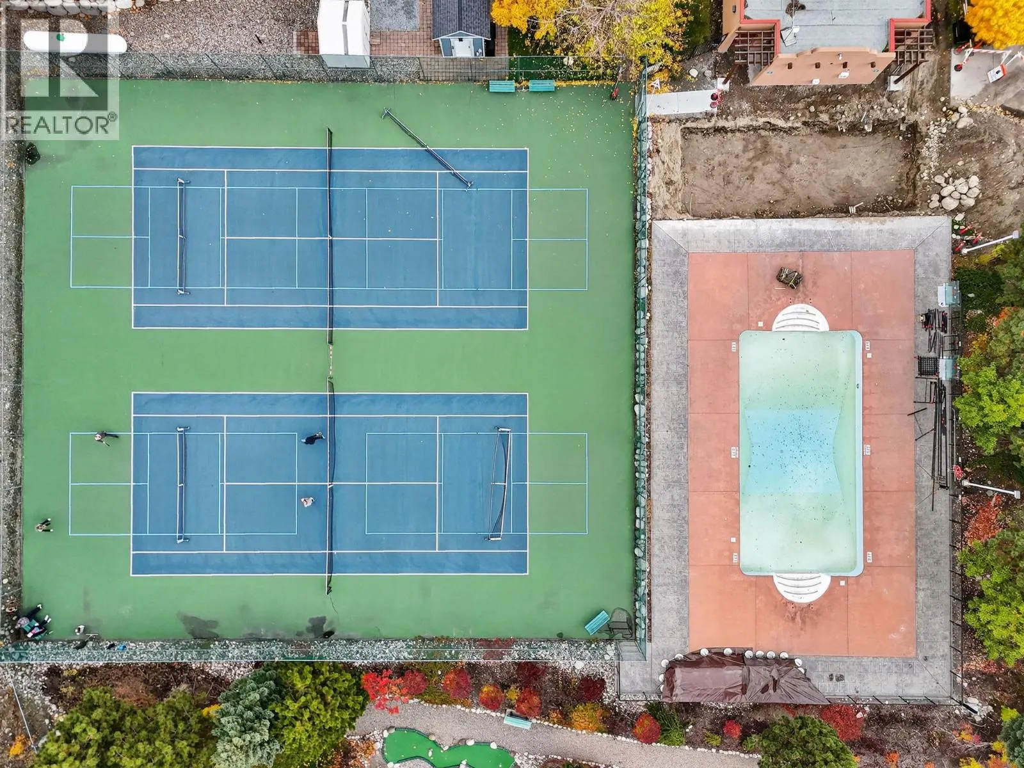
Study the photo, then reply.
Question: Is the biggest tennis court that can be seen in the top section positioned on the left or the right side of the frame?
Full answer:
The biggest tennis court that can be seen in the top section is on the left side of the image.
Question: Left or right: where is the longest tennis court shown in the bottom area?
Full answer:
The longest tennis court shown in the bottom area sits on the left side.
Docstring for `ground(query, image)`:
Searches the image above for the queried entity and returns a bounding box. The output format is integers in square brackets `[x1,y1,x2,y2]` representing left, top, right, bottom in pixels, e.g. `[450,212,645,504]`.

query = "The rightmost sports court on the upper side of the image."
[366,187,588,290]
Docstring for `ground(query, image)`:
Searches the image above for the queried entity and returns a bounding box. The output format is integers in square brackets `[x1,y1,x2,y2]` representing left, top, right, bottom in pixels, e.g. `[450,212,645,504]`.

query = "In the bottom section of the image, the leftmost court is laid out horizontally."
[68,433,297,535]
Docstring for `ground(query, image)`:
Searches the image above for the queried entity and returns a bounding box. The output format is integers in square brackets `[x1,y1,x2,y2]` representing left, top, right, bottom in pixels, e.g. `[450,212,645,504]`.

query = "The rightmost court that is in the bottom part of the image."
[366,433,588,535]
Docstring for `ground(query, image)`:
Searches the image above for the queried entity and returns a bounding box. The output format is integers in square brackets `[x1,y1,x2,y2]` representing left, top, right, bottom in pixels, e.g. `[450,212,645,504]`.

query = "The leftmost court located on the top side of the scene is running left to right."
[70,185,296,289]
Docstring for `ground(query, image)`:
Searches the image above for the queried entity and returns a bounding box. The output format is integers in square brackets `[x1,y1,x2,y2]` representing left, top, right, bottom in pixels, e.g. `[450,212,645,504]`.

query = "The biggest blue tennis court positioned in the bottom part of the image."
[130,392,529,576]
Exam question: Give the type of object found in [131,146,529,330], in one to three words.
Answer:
tennis court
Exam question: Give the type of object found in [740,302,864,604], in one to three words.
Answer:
swimming pool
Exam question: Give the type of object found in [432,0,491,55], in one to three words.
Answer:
shed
